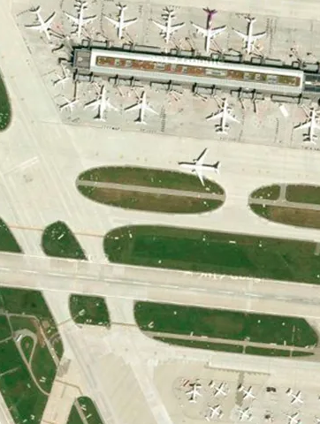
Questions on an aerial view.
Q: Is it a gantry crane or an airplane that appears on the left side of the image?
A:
airplane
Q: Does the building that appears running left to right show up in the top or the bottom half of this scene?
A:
top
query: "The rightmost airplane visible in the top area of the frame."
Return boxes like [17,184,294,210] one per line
[295,108,320,144]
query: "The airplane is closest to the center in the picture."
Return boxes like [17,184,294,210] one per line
[180,149,221,189]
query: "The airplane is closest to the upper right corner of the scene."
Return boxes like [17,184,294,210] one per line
[233,18,269,53]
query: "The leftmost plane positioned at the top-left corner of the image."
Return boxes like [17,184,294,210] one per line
[24,6,57,40]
